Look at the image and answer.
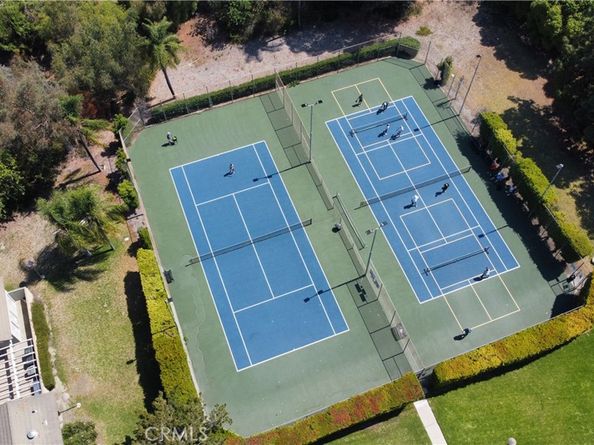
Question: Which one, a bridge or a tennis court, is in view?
tennis court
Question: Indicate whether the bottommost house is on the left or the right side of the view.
left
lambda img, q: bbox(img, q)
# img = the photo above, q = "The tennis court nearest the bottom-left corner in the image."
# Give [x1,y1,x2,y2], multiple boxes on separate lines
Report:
[128,89,413,444]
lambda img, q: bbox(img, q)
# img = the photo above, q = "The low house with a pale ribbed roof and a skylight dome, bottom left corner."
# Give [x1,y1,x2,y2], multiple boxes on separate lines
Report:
[0,392,71,445]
